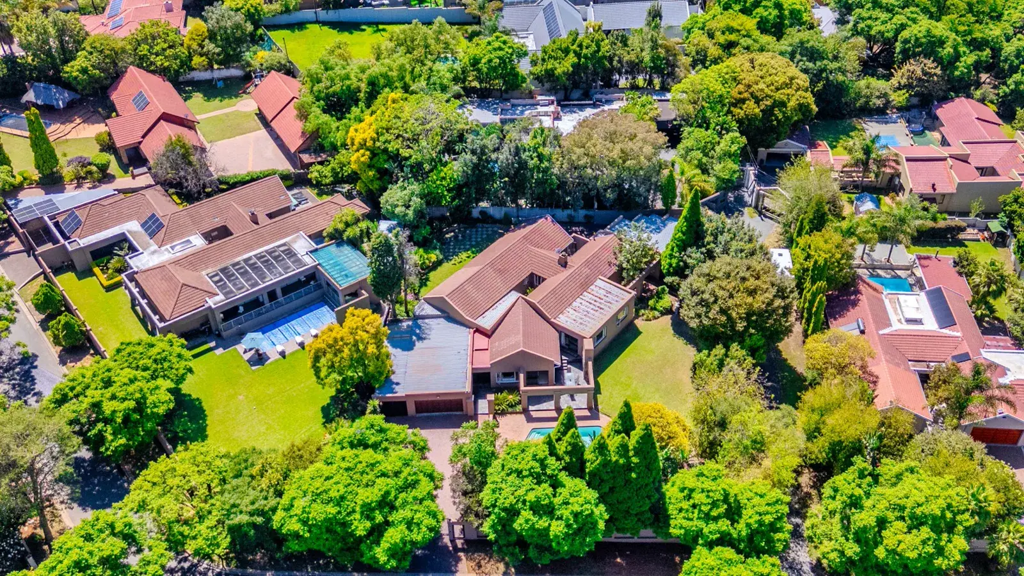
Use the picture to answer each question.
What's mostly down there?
trees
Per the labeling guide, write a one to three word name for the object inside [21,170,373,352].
house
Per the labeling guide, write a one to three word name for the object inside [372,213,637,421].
house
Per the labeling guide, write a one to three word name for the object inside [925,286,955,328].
solar panel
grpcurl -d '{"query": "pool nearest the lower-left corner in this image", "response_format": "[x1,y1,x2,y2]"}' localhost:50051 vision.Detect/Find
[255,300,335,355]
